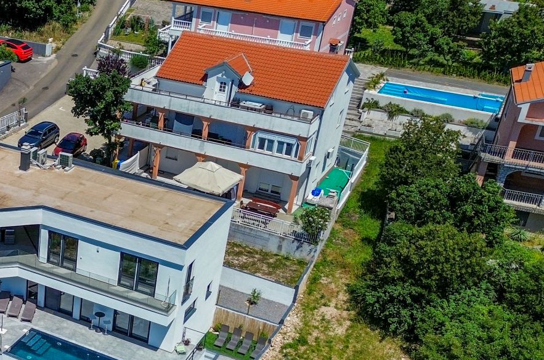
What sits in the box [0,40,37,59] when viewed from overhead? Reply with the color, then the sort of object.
red car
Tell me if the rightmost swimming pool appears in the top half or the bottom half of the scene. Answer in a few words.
top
